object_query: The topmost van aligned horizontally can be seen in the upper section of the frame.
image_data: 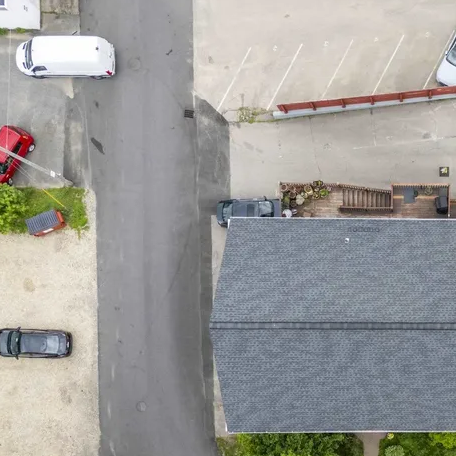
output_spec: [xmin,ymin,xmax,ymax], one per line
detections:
[17,36,117,81]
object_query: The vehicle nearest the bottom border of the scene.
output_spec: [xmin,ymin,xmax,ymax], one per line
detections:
[0,325,71,361]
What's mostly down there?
paved ground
